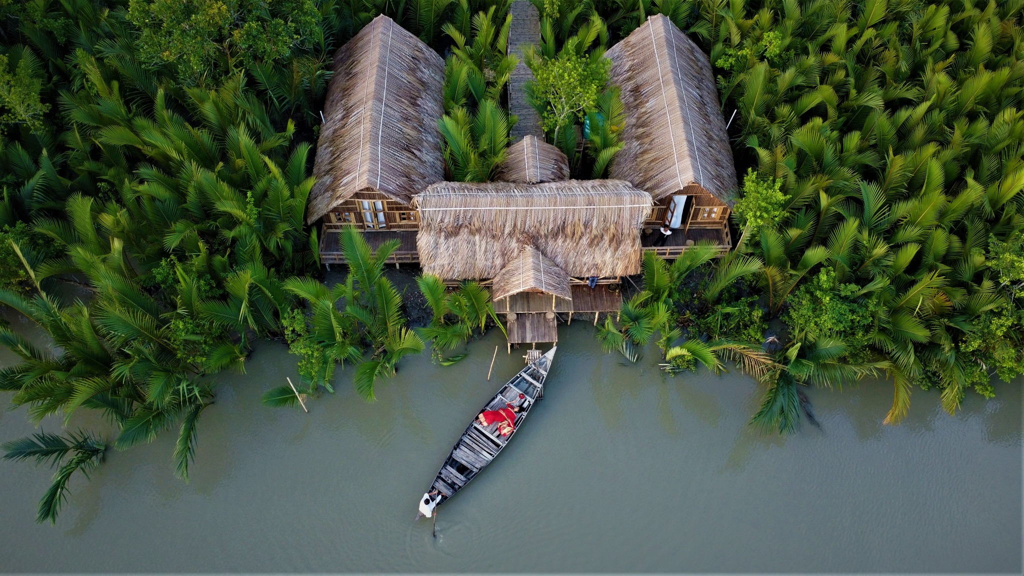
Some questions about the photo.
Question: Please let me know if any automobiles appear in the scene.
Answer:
No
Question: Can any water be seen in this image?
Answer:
Yes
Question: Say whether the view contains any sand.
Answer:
No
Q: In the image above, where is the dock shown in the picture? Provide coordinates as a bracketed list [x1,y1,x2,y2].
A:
[508,313,558,354]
